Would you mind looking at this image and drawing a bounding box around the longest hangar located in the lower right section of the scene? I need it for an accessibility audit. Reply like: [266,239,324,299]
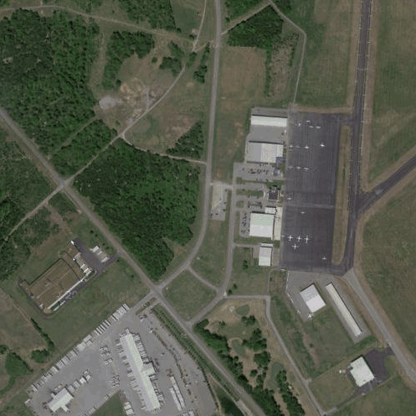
[326,282,363,337]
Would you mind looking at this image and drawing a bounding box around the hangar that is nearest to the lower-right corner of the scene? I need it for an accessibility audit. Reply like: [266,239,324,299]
[351,356,374,387]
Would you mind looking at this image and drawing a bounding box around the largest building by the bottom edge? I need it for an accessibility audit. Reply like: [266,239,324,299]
[119,332,160,412]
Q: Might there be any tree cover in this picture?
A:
Yes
